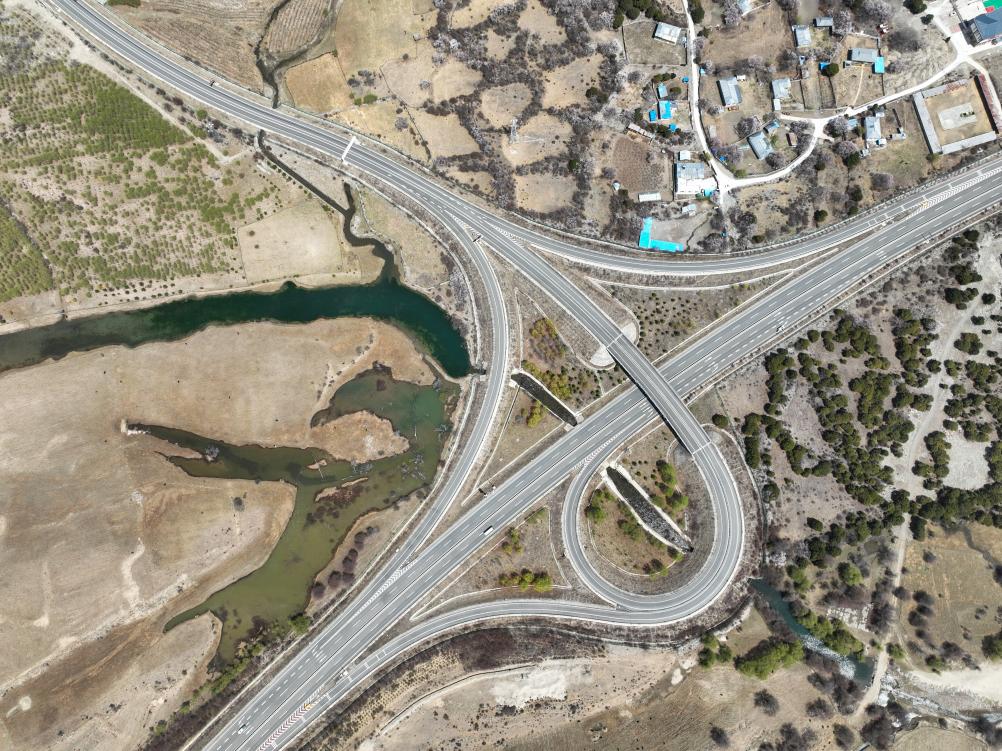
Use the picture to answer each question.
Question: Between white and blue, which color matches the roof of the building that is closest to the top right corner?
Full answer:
The roof of the building that is closest to the top right corner looks blue in the image.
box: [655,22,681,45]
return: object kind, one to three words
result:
house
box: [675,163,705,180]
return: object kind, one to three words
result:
house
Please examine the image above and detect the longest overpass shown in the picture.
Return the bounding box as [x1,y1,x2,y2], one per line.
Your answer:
[607,333,710,455]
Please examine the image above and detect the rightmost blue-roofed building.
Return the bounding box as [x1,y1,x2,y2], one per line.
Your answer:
[957,7,1002,47]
